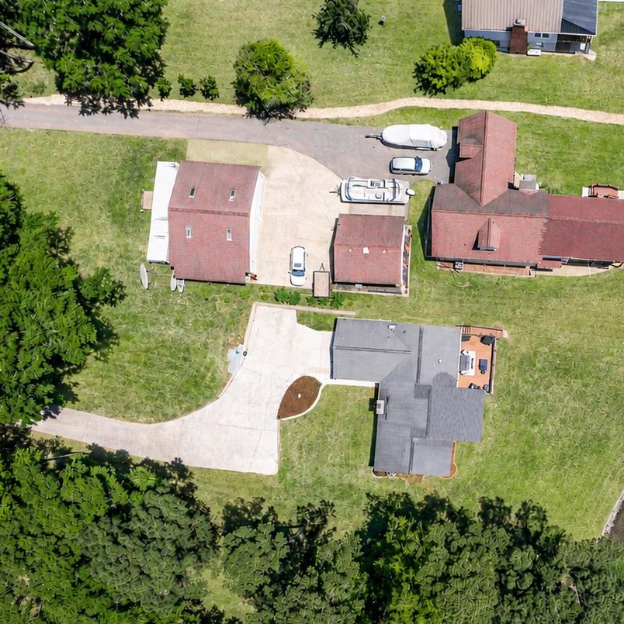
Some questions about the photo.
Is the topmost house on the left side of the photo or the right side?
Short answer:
right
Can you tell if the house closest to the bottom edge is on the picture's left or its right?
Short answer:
right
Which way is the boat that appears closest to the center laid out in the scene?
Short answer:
from side to side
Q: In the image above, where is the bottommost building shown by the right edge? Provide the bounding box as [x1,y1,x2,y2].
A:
[431,115,624,271]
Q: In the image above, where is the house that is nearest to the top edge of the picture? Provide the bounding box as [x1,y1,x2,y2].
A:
[461,0,598,61]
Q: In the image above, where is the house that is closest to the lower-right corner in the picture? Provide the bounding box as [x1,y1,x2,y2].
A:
[333,318,483,476]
